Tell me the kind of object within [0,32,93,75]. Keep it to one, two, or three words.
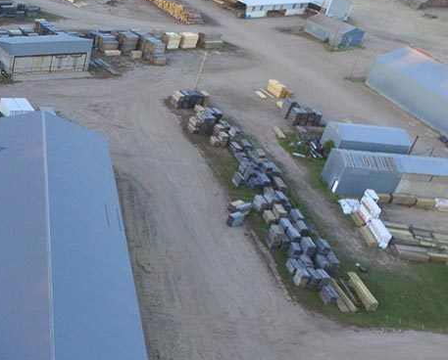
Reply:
shed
